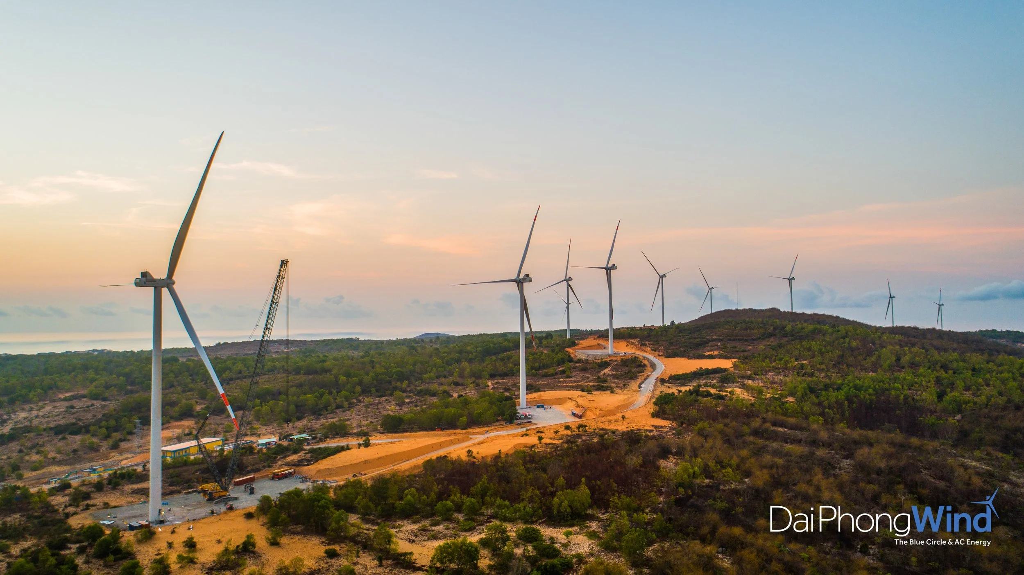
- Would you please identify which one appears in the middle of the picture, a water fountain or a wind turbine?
wind turbine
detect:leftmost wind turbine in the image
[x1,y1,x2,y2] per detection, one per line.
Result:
[118,132,241,519]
